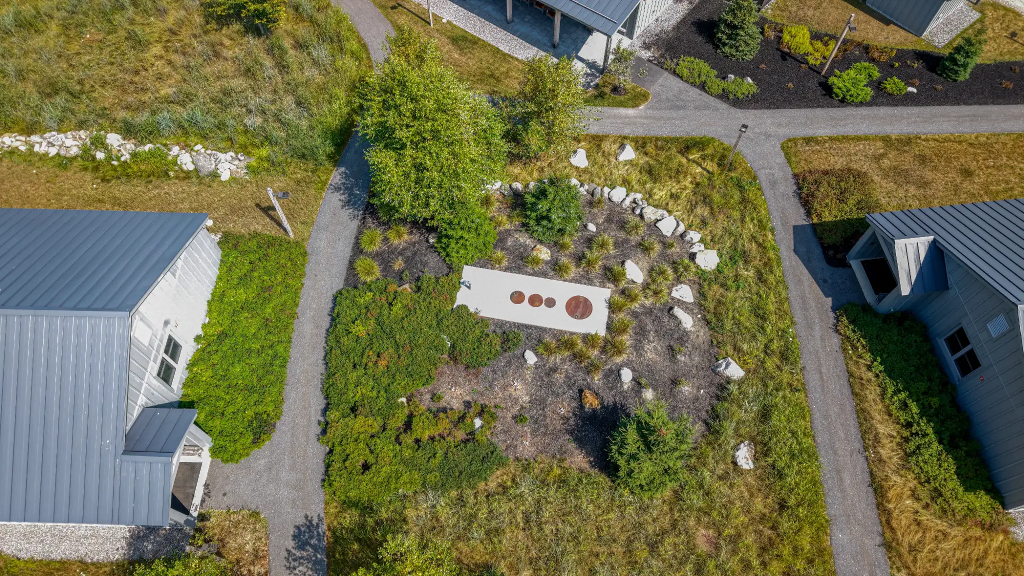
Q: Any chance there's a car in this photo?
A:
No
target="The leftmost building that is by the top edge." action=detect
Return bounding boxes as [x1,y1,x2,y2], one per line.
[533,0,672,73]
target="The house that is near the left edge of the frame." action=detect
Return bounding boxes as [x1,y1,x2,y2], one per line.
[0,209,219,530]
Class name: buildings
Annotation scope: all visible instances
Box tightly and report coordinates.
[533,0,672,73]
[866,0,974,37]
[0,209,219,530]
[852,197,1024,518]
